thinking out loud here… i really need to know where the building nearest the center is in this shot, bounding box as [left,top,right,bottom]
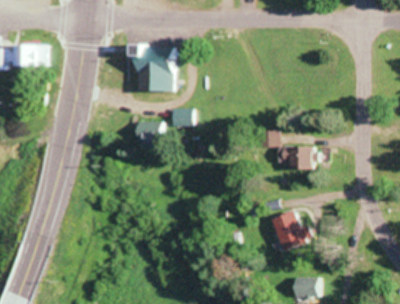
[170,109,198,128]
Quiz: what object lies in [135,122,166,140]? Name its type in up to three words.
house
